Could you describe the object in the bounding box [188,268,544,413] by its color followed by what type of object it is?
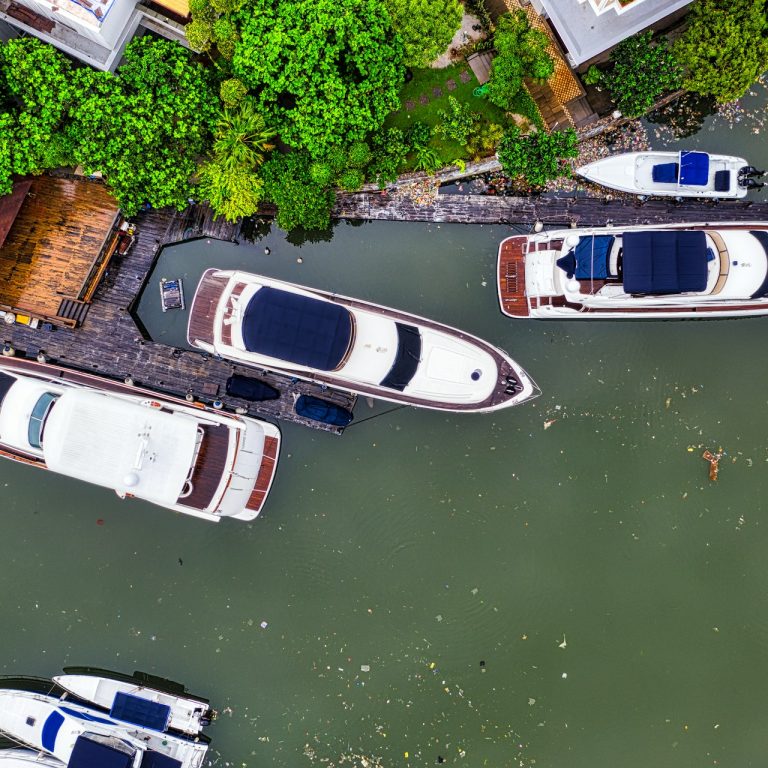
white boat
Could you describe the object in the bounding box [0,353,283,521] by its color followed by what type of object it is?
white boat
